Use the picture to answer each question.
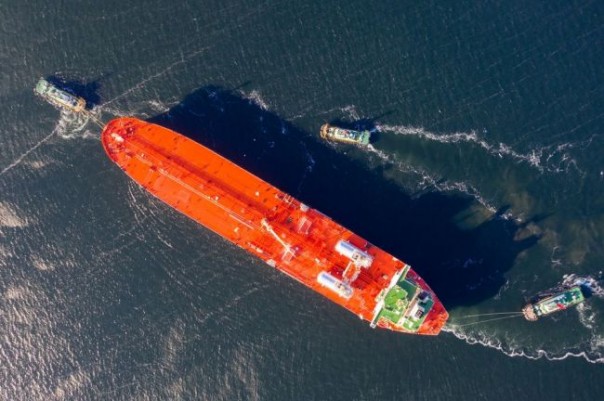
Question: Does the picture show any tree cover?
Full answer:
No, the picture contains no tree cover.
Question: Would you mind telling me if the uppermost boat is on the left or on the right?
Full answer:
The uppermost boat is on the left side of the image.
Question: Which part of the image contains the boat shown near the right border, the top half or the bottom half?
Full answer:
The boat shown near the right border sits in the bottom half of the picture.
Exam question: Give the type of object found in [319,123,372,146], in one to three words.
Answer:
boat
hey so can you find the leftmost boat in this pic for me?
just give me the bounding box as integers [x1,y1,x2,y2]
[34,78,88,113]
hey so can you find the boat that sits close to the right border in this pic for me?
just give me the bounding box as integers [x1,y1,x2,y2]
[520,284,589,322]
